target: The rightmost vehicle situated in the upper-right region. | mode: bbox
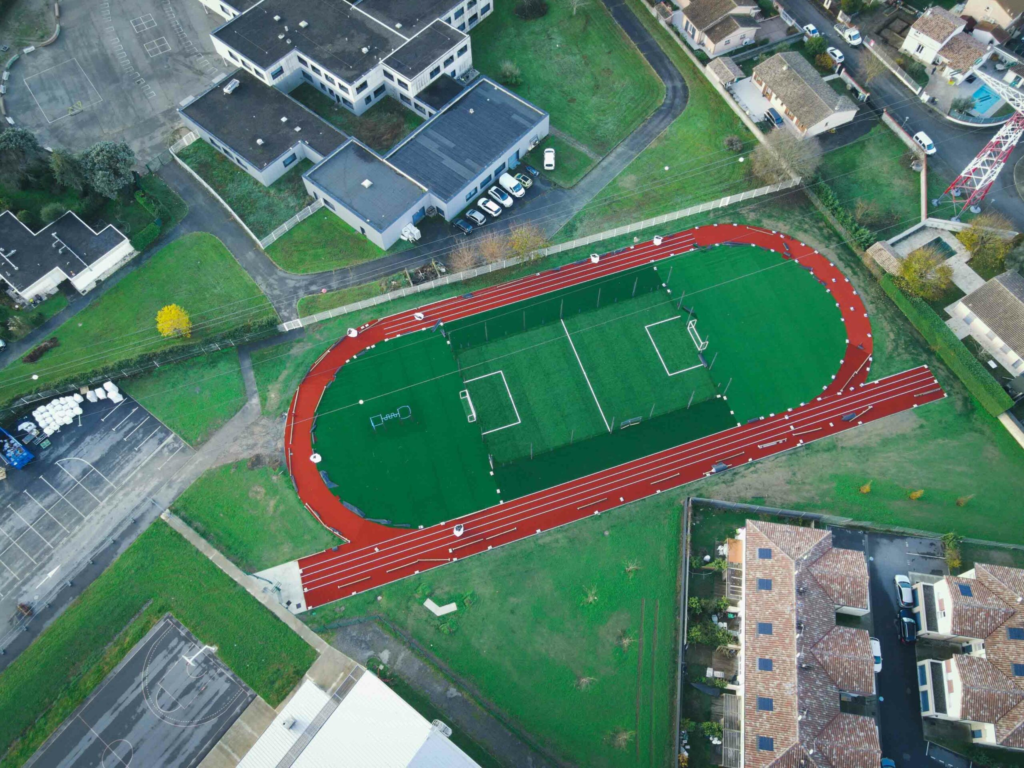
[910,127,940,156]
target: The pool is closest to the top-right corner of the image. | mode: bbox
[972,85,1001,114]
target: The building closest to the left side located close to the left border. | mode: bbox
[0,211,138,307]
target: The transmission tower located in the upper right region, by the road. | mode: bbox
[930,57,1024,218]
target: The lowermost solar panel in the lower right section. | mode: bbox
[756,736,774,751]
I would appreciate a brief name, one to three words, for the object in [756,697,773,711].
solar panel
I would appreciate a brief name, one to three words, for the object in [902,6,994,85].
house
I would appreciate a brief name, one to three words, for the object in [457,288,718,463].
soccer field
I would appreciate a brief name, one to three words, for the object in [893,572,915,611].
car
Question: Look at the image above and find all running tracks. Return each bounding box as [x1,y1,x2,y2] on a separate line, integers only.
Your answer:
[284,224,947,610]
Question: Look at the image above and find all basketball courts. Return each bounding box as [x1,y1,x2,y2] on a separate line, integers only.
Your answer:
[19,612,257,768]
